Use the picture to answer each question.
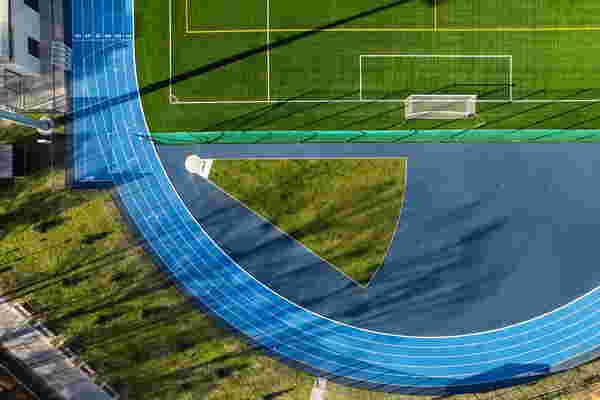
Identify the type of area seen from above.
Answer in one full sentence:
It's a sports ground.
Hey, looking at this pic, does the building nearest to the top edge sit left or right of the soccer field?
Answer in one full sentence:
The building nearest to the top edge is to the left of the soccer field.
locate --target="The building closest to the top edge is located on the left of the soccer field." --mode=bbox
[0,0,41,72]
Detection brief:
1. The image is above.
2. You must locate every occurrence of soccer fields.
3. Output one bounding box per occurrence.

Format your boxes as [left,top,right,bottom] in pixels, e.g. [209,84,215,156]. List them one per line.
[134,0,600,142]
